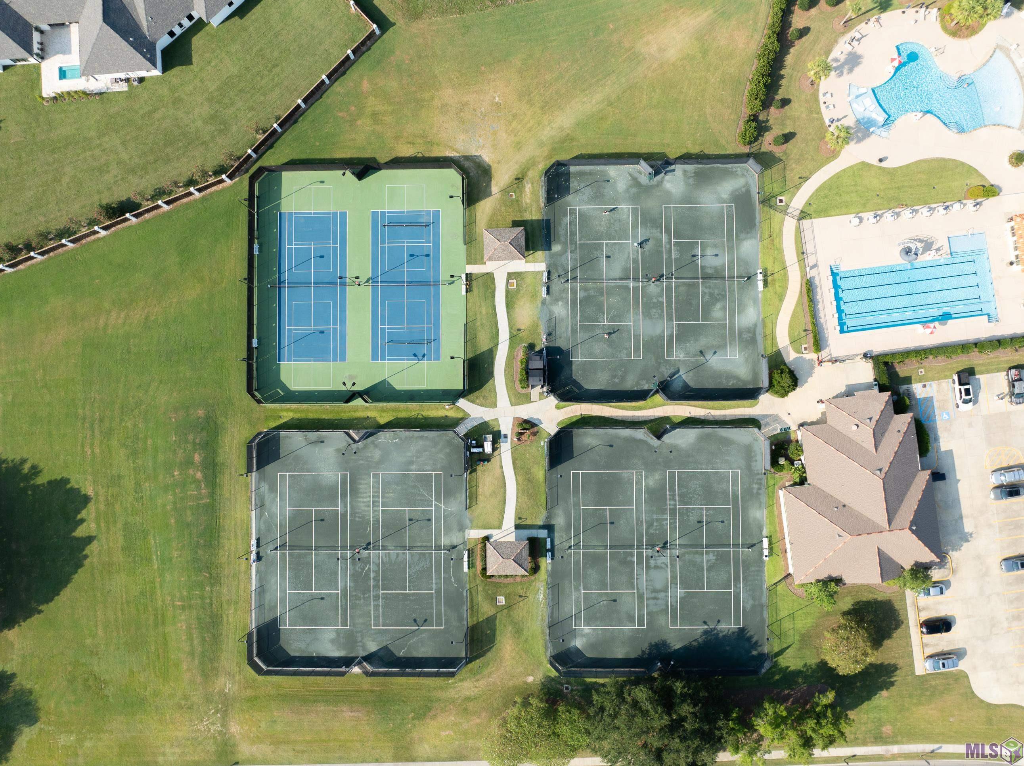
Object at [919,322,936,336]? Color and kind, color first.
white umbrella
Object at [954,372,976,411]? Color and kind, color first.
white vehicle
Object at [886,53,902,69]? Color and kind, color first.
white umbrella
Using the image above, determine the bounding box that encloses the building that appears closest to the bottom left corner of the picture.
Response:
[486,539,529,576]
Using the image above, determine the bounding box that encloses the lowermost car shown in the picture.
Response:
[926,656,962,674]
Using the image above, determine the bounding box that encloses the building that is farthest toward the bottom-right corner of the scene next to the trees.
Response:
[778,390,942,585]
